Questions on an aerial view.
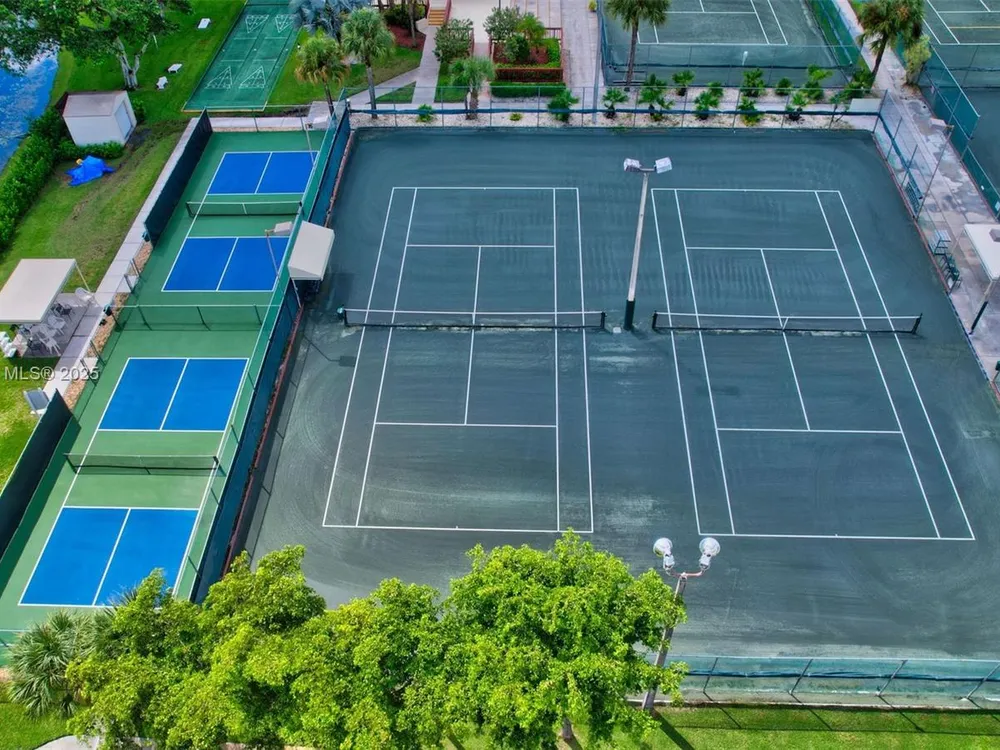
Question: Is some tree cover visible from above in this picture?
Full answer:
Yes, tree cover shows up in the scene.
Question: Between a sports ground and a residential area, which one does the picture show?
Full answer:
The area seen from above is a sports ground.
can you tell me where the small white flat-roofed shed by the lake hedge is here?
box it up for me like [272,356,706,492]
[53,89,136,145]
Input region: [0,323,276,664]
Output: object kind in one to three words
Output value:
sports court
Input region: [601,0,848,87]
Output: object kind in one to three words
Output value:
tennis court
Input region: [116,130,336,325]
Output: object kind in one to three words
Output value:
sports court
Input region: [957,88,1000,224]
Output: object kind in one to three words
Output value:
tennis court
